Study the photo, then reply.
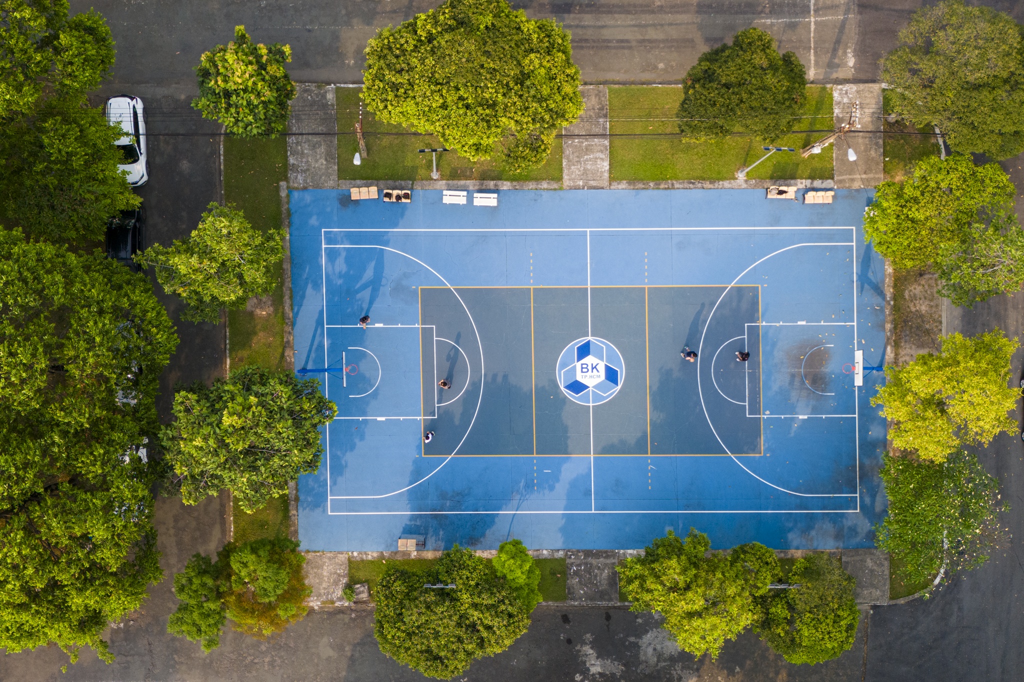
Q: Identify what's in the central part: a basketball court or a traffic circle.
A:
basketball court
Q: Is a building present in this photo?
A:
No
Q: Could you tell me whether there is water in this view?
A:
No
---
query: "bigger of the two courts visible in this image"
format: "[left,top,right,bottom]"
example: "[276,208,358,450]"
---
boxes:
[289,188,889,552]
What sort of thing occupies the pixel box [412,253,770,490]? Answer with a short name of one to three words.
sports court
